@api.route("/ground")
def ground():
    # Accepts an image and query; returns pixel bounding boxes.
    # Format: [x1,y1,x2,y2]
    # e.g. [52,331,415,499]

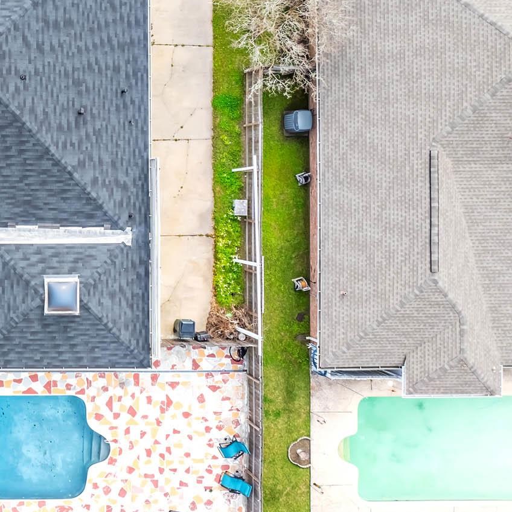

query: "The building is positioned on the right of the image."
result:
[293,0,512,398]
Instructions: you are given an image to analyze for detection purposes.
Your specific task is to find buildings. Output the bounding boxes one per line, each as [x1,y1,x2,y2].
[293,0,512,398]
[0,0,160,370]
